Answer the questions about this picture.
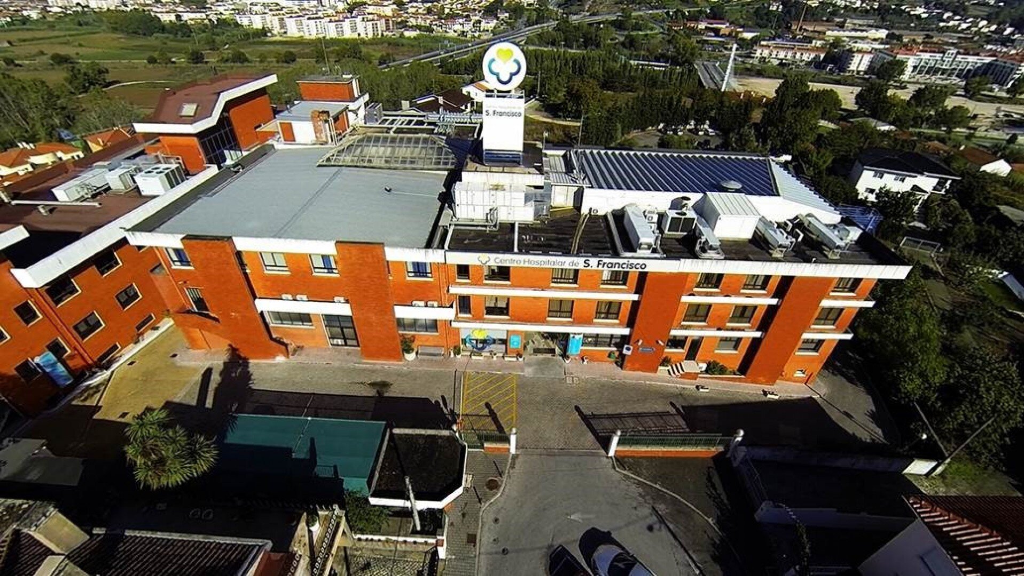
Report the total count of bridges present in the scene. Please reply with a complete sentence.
In total, 2 bridges can be seen.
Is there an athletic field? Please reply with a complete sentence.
Yes, the photo shows an athletic field.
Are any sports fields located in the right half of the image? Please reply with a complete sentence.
Yes, looking in the right half of the image, one can make out a sports field.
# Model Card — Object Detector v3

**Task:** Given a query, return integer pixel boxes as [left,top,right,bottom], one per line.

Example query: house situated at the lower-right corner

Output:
[868,493,1024,576]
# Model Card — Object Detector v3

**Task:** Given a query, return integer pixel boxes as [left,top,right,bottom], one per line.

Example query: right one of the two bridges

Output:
[703,43,762,92]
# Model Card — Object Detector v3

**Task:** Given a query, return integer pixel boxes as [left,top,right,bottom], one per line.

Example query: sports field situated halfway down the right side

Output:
[895,250,952,300]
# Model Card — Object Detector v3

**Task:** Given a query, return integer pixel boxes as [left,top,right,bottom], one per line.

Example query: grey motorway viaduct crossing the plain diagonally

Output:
[371,9,683,61]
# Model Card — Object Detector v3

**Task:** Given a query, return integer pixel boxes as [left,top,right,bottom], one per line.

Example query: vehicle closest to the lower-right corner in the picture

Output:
[592,541,654,576]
